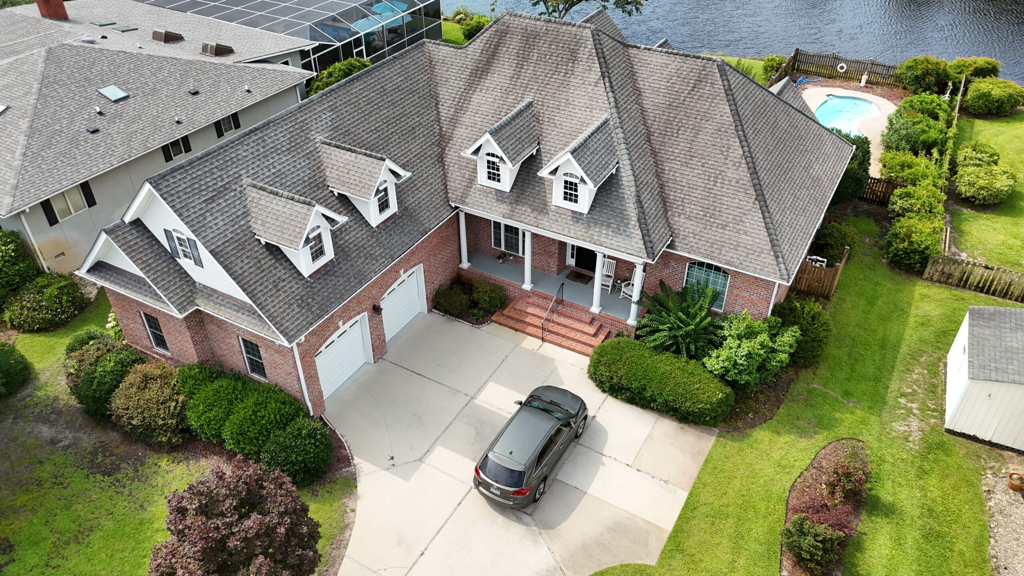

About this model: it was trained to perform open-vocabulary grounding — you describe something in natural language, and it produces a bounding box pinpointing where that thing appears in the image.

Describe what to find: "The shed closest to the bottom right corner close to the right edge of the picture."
[937,305,1024,459]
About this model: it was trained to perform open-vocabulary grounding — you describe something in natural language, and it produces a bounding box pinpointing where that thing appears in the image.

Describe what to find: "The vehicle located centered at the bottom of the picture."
[471,391,585,517]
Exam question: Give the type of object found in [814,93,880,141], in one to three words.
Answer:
swimming pool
